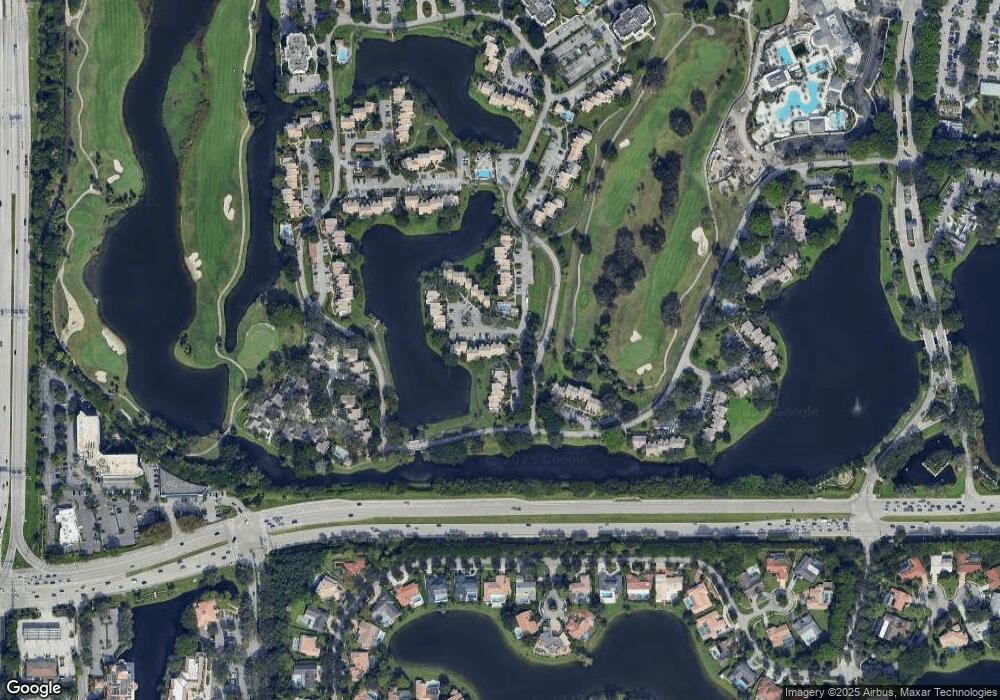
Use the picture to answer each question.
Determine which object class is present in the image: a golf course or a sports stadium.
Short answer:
golf course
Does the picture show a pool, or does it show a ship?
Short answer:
pool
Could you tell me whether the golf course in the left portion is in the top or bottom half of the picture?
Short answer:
top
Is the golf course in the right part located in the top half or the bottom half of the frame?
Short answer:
top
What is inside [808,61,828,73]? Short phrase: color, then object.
blue swimming pool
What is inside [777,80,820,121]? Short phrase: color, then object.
blue swimming pool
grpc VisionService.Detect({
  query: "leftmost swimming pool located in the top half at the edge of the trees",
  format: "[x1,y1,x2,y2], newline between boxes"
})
[280,222,293,244]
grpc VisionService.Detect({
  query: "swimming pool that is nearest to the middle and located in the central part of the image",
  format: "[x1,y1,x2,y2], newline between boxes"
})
[498,301,518,316]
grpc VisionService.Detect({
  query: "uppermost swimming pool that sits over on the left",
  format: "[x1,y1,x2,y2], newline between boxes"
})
[336,40,350,64]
